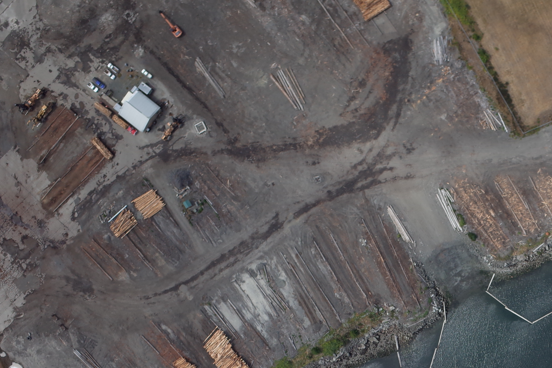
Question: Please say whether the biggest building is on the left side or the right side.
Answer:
left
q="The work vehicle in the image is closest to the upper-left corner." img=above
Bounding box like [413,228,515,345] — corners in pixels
[18,90,44,113]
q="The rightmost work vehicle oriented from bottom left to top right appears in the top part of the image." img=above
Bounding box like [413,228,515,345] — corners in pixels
[163,114,185,139]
